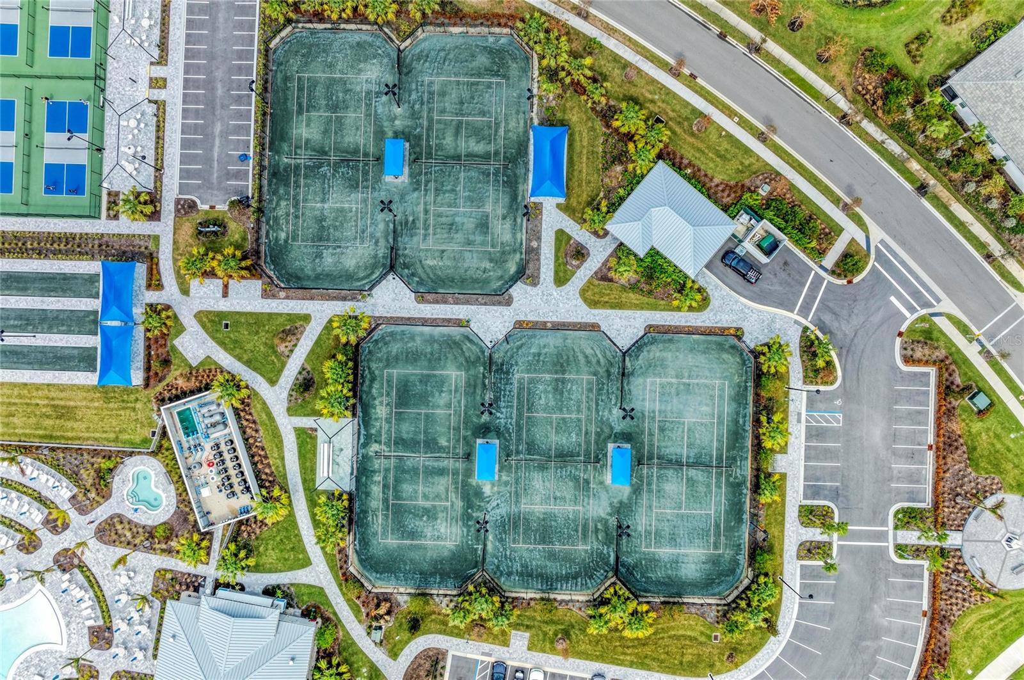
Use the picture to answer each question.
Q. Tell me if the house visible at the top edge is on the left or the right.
right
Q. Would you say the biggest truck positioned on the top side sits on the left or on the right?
right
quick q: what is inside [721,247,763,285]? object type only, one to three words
truck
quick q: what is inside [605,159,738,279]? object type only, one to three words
building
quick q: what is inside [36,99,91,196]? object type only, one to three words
sports court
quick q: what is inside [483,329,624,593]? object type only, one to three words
tennis court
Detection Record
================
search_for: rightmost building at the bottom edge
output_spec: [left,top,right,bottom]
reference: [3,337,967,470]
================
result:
[152,584,317,680]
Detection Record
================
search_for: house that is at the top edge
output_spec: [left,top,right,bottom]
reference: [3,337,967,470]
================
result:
[940,20,1024,194]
